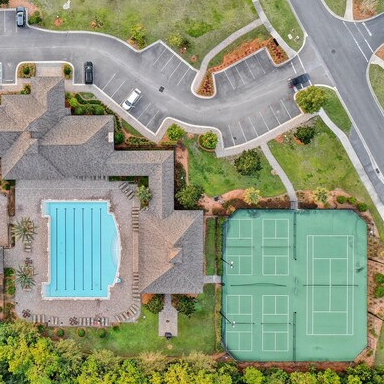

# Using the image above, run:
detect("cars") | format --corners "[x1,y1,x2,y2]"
[84,63,93,85]
[288,73,310,87]
[16,8,25,27]
[124,88,142,109]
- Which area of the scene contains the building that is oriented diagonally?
left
